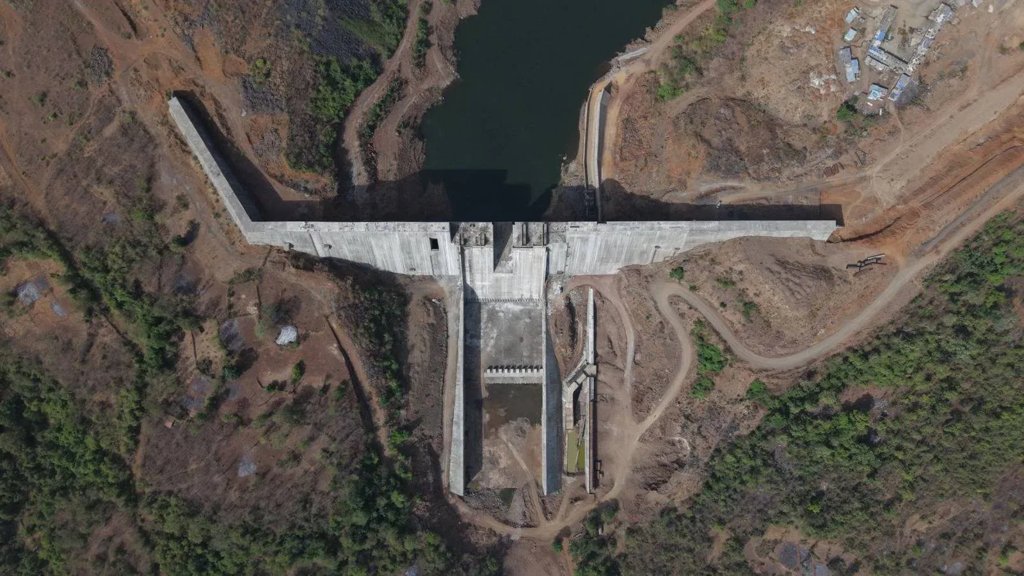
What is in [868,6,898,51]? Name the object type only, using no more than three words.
shed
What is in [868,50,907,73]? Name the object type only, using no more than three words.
shed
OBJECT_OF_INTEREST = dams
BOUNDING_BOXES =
[167,97,836,300]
